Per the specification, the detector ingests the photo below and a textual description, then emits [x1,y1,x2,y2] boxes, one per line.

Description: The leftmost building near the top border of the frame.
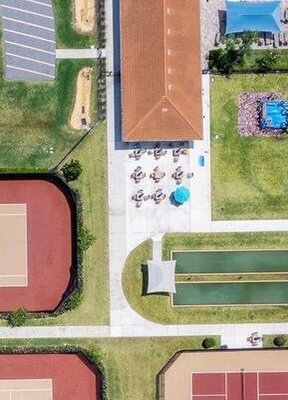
[120,0,203,145]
